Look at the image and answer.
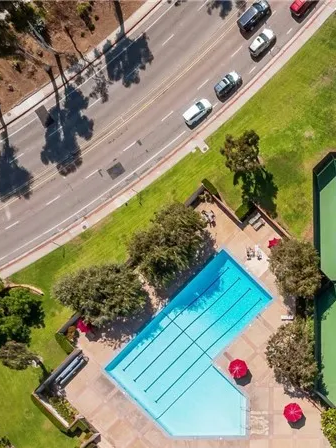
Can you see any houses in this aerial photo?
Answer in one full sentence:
No, the scene contains no house.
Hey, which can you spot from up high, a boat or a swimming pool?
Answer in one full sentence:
It is a swimming pool that can be seen here.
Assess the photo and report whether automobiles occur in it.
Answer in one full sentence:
Yes, I can see an automobile in this picture.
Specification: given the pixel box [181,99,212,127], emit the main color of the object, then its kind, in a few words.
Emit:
white car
